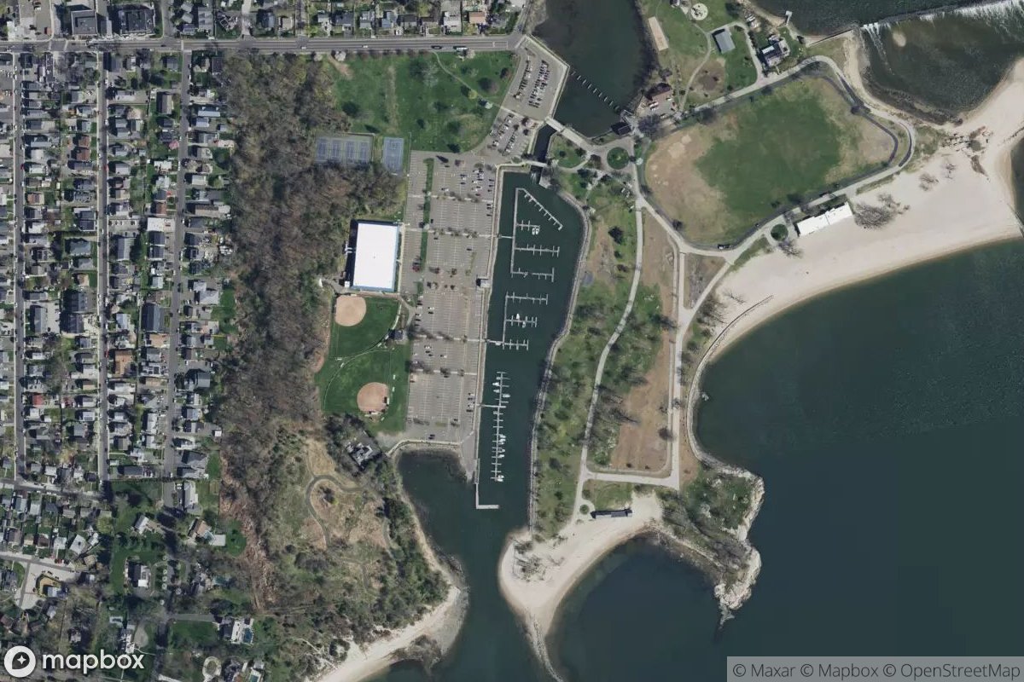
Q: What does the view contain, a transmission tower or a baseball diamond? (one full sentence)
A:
Looking from above, you can make out a baseball diamond.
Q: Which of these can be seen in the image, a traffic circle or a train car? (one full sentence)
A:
The image shows a traffic circle.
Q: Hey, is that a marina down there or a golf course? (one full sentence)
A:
The picture captures a marina.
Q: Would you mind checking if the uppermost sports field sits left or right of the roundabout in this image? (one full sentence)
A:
Relative to the roundabout, the uppermost sports field lies to the right.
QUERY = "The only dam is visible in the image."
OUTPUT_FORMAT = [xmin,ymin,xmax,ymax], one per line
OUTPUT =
[856,0,1016,28]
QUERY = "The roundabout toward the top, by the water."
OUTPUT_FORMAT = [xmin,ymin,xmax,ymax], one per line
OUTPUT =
[582,133,642,201]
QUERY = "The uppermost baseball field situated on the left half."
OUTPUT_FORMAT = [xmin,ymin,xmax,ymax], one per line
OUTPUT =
[328,294,401,358]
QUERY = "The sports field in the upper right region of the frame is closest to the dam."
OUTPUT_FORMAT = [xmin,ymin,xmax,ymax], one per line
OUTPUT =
[645,77,893,241]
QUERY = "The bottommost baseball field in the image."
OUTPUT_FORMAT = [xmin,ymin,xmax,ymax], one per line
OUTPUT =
[325,345,409,426]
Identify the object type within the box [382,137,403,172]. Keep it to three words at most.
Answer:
basketball court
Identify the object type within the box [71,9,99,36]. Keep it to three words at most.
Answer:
building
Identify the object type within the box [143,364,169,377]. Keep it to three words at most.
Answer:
house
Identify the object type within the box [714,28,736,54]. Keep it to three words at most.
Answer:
building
